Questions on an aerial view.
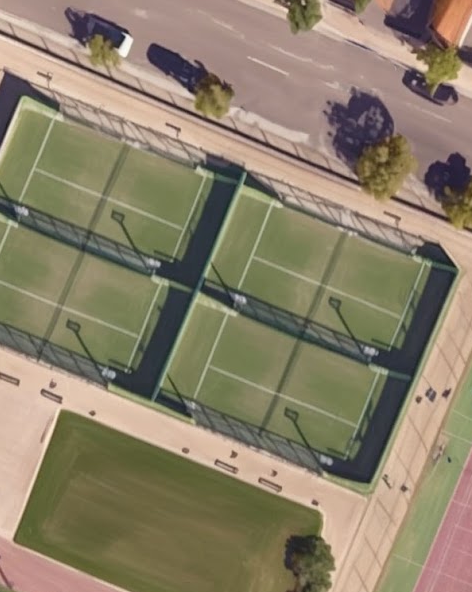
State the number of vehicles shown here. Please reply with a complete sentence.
The count of vehicles comes to 3.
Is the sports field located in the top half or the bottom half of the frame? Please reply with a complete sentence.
You can find the sports field in the bottom half.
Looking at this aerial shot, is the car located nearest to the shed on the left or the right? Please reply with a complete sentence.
The car located nearest to the shed appears in the right half of the scene.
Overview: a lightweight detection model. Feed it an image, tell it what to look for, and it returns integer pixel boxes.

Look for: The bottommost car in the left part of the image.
[145,47,203,88]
